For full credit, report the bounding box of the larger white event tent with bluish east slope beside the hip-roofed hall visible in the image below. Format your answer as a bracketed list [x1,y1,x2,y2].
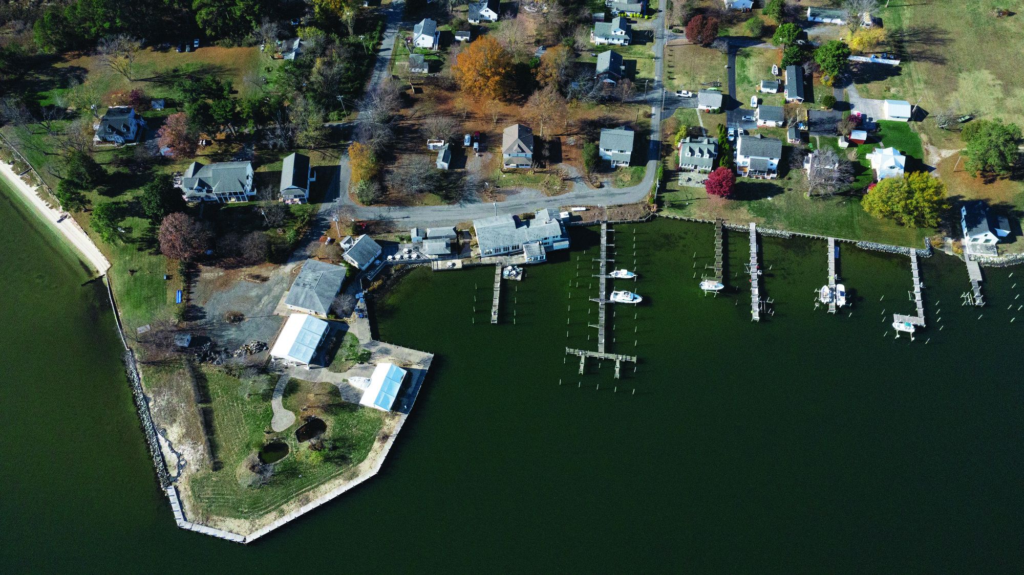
[271,314,335,372]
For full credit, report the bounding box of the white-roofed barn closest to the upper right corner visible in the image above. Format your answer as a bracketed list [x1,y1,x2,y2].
[880,99,911,126]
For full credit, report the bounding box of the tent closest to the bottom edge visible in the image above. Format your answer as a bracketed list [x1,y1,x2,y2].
[359,364,411,419]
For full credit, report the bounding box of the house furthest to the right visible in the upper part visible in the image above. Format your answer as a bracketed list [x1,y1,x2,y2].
[953,198,1016,247]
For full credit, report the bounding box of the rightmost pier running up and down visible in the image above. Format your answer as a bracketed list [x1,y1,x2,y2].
[961,244,986,309]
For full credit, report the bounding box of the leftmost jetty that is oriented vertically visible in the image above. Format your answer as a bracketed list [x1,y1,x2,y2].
[490,265,503,325]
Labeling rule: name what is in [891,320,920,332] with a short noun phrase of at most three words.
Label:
boat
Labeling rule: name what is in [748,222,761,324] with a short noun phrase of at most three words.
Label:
pier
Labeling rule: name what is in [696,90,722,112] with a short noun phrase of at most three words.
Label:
building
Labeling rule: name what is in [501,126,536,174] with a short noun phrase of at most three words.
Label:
house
